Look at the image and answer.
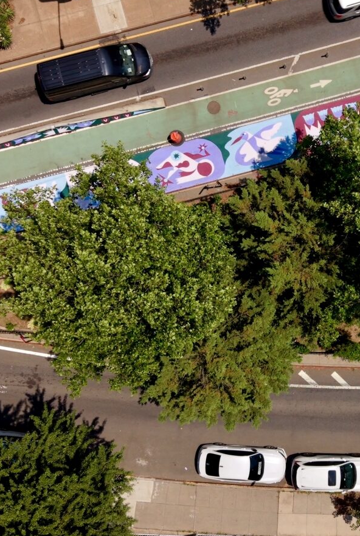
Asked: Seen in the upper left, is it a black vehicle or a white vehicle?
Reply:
black vehicle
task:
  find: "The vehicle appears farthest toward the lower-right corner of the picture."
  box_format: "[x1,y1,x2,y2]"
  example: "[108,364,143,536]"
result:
[289,449,360,496]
